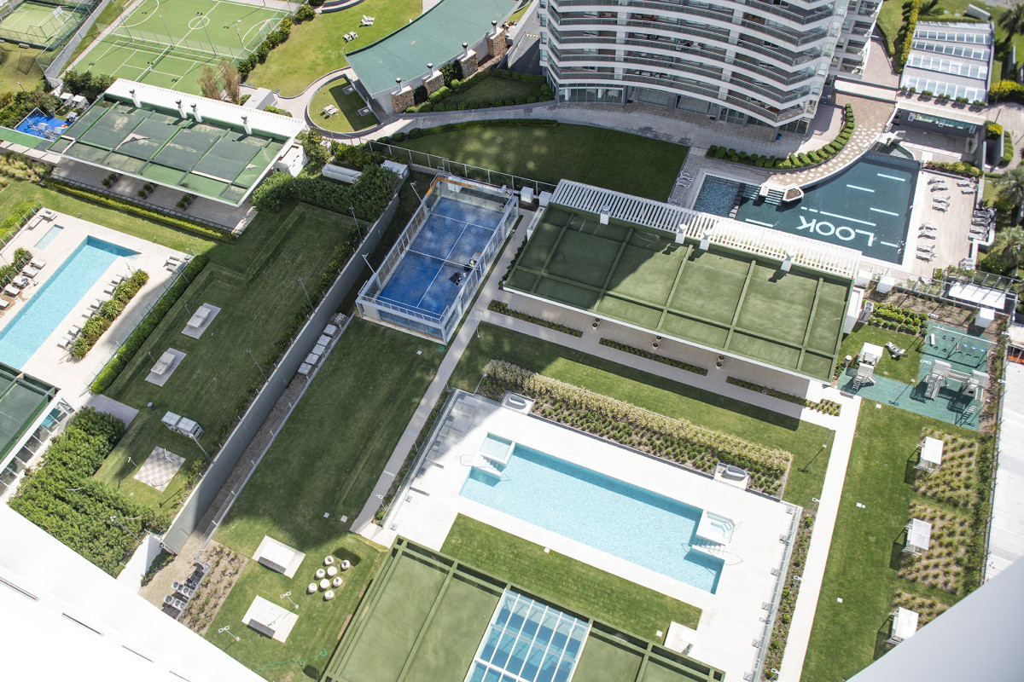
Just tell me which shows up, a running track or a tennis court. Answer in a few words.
tennis court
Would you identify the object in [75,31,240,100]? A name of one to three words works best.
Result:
tennis court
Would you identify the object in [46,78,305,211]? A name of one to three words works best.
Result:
building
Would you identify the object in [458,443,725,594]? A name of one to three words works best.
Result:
swimming pool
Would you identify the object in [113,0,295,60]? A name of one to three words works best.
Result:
sports court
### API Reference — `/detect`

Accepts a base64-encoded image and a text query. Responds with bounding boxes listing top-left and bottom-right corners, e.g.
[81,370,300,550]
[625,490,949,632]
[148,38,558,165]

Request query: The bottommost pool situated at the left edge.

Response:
[0,237,139,369]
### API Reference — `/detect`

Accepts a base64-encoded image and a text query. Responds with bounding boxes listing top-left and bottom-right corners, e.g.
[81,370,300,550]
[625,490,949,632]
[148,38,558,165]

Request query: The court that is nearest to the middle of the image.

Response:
[355,172,519,345]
